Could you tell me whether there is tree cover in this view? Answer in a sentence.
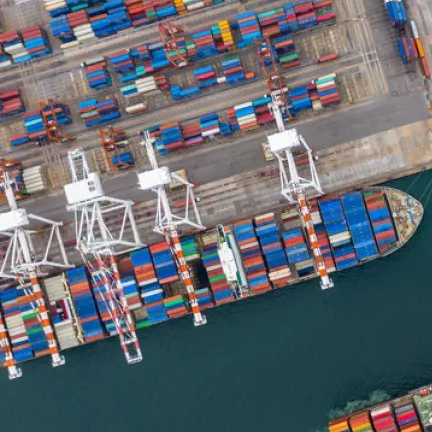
No, there's no tree cover in this view.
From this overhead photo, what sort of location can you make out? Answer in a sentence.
This looks like a port.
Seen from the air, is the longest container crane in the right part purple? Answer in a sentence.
No, the color of the longest container crane in the right part is white.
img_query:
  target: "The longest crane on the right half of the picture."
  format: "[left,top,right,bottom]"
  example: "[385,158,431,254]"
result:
[265,91,334,293]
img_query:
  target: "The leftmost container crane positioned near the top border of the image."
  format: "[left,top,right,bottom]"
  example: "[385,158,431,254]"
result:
[157,20,195,74]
